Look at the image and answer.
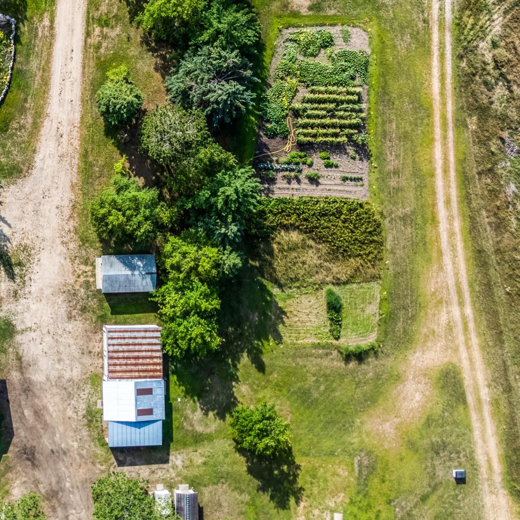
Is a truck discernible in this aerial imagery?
No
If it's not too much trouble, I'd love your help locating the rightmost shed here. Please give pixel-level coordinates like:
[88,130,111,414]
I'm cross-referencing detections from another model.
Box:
[174,489,198,520]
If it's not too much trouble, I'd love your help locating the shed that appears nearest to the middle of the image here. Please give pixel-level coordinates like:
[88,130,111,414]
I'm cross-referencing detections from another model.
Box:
[96,255,157,293]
